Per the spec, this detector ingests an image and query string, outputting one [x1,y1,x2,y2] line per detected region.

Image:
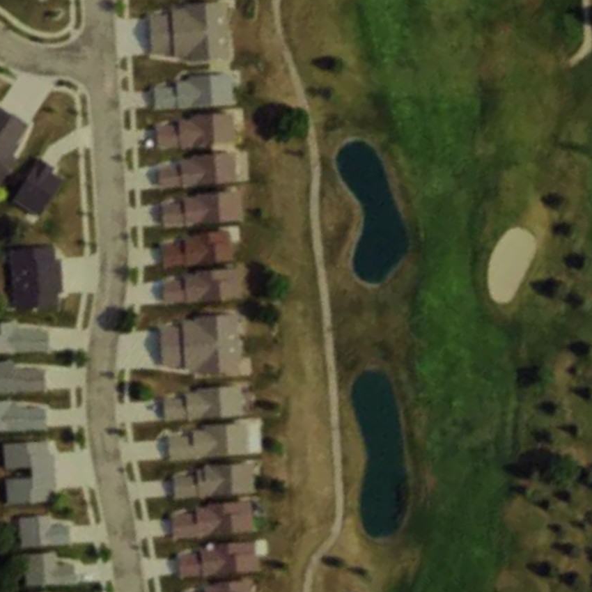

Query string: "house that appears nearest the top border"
[151,0,237,71]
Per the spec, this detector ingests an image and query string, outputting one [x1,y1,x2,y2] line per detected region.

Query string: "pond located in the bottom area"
[354,370,408,536]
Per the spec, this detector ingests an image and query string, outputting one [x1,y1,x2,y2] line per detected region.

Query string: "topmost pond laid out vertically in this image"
[336,141,408,284]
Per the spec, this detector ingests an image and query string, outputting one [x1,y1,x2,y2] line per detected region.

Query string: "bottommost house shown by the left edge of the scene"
[24,555,77,588]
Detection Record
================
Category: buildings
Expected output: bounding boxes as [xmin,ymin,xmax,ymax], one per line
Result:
[17,517,69,548]
[162,193,244,230]
[172,461,261,502]
[153,71,242,112]
[157,151,250,190]
[7,244,63,309]
[178,539,269,581]
[151,0,237,71]
[0,110,28,192]
[160,311,252,377]
[155,109,246,152]
[3,441,54,504]
[172,503,254,541]
[168,419,262,461]
[12,160,61,217]
[24,555,77,588]
[162,270,247,307]
[0,400,46,433]
[161,226,240,271]
[0,324,48,355]
[163,386,255,423]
